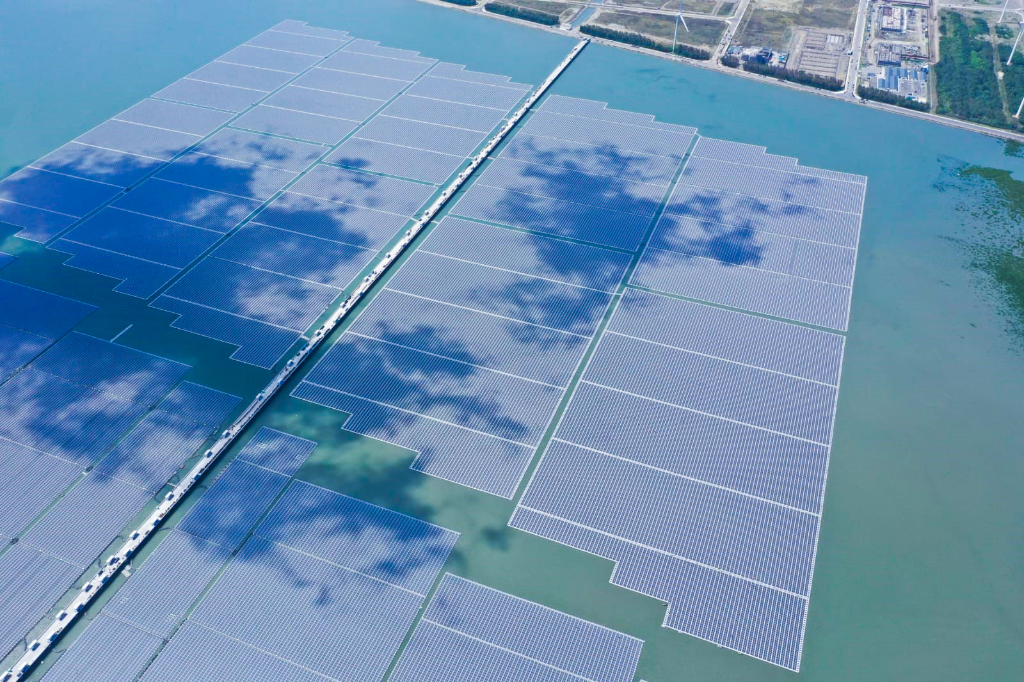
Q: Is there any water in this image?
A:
Yes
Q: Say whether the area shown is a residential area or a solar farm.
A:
solar farm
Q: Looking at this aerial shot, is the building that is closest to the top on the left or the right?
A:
right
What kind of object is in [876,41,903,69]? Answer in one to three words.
building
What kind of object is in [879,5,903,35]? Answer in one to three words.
building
